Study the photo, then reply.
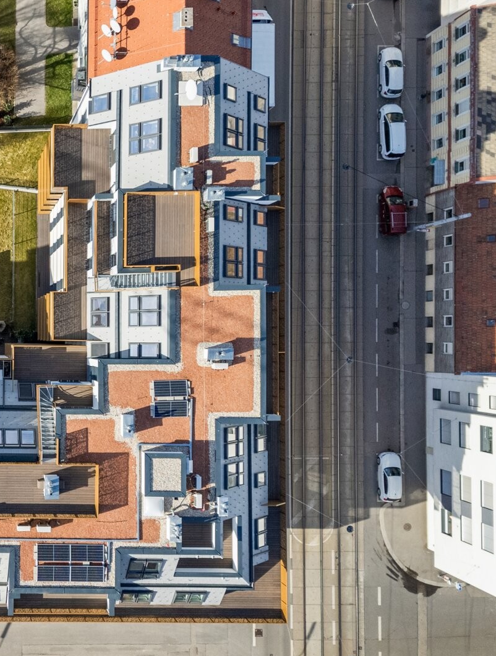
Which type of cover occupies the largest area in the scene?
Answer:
buildings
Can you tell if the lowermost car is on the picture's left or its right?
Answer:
right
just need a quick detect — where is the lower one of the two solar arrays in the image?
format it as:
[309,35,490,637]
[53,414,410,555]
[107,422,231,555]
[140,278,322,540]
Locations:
[31,542,110,581]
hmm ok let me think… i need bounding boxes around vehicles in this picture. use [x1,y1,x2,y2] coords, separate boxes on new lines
[371,451,402,502]
[372,49,403,101]
[253,0,275,115]
[372,107,404,162]
[372,187,404,235]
